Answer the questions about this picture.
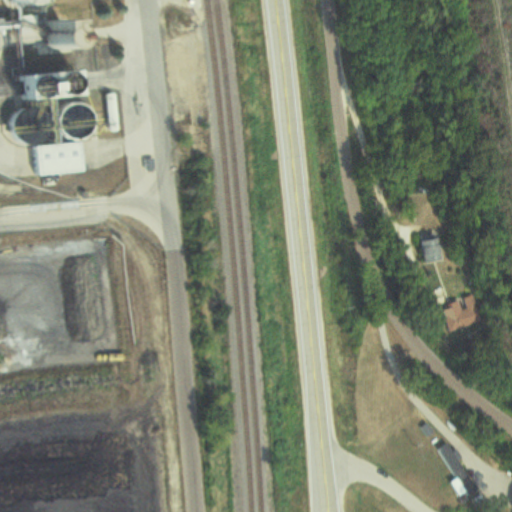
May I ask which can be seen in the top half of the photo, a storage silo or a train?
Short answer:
storage silo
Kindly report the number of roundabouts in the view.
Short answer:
0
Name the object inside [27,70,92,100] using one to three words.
building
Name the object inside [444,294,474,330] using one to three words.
house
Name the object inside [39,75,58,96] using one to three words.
silo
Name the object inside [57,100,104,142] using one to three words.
storage tank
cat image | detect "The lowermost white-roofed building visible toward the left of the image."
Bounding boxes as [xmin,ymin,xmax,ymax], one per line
[34,142,85,186]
